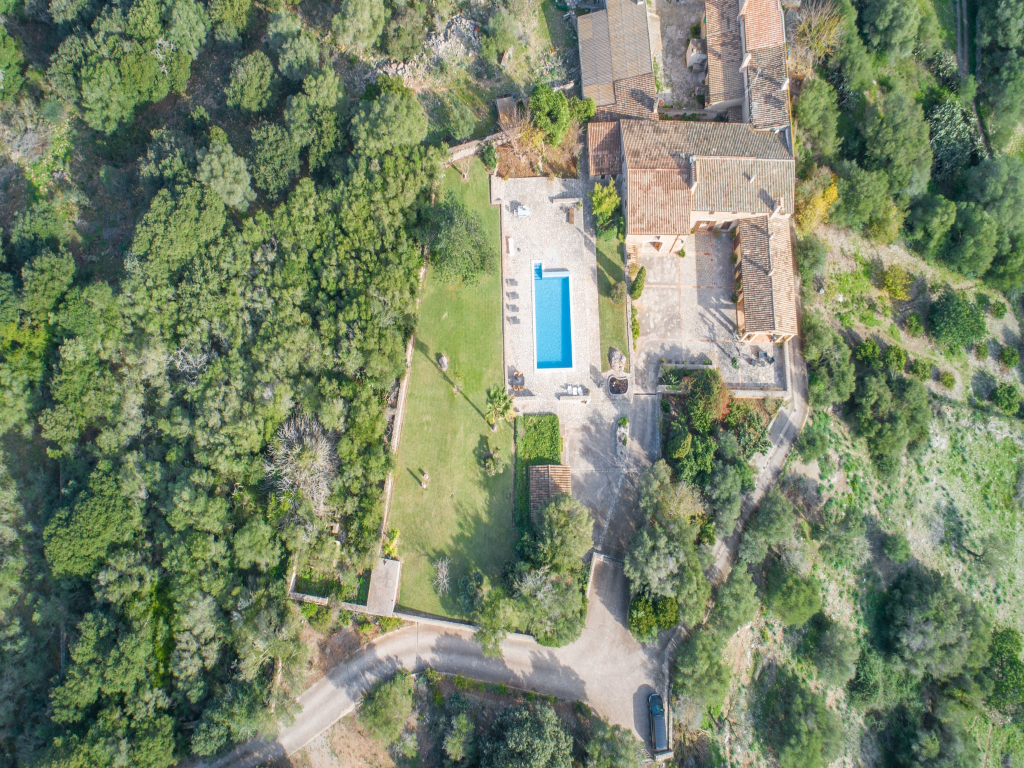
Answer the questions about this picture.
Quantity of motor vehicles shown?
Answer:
one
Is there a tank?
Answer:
No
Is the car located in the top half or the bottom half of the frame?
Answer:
bottom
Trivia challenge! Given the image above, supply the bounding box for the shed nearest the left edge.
[368,558,403,616]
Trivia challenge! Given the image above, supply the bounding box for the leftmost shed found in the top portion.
[496,94,525,135]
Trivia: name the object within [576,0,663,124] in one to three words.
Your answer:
barn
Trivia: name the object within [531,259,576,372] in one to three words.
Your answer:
swimming pool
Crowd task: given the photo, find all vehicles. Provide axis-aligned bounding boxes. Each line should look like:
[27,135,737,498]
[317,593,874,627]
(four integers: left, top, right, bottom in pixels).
[647,697,673,754]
